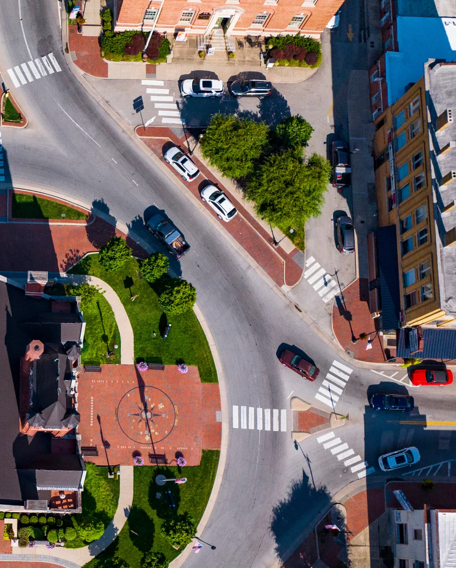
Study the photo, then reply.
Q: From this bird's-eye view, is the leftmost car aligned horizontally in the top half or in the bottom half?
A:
top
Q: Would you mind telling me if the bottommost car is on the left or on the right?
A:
right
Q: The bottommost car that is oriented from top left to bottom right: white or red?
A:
red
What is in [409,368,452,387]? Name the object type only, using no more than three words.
car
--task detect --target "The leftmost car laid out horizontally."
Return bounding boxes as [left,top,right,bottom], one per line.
[179,78,224,99]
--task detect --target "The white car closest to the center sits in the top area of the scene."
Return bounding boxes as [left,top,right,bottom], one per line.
[199,190,238,222]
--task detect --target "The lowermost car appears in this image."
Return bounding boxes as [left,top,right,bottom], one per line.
[377,448,420,471]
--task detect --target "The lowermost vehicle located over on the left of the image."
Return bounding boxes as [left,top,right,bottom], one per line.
[146,216,192,259]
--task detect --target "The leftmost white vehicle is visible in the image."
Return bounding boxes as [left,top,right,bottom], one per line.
[162,148,200,182]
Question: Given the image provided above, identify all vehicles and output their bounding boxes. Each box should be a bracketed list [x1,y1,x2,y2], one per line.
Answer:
[277,350,320,383]
[179,78,224,99]
[331,142,353,188]
[335,216,357,253]
[162,148,200,182]
[409,368,452,387]
[229,77,273,99]
[199,190,238,222]
[146,216,192,259]
[377,448,420,471]
[328,9,345,31]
